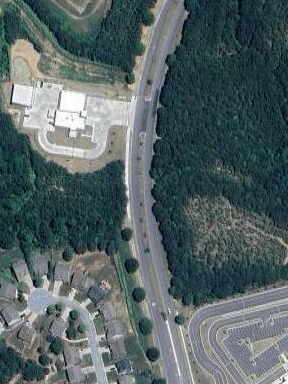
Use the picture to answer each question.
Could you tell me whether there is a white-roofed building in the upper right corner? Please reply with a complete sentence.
No, no white-roofed building can be made out in the upper right corner.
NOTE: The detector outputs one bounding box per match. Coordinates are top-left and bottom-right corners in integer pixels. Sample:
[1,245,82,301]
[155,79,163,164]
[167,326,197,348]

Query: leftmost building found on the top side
[12,85,33,108]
